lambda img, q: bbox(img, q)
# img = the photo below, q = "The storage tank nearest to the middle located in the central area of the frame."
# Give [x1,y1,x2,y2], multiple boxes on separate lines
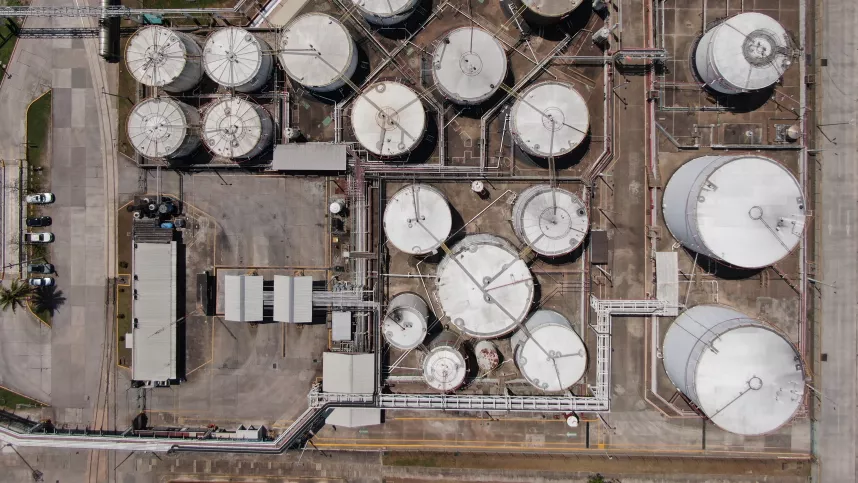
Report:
[383,180,457,254]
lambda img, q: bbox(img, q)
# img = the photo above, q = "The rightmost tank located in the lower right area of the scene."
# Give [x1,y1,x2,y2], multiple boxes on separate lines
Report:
[658,299,809,438]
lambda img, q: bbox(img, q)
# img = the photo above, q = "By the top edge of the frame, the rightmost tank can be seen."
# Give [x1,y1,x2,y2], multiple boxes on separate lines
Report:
[690,10,798,99]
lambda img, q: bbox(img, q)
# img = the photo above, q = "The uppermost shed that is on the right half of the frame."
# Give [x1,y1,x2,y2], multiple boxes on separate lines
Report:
[589,231,607,264]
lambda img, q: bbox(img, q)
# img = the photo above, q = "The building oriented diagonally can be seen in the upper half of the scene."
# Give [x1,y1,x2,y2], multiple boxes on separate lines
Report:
[268,0,320,31]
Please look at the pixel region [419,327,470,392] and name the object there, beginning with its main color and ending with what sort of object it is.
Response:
white storage tank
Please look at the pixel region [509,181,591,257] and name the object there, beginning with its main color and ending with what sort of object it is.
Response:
white storage tank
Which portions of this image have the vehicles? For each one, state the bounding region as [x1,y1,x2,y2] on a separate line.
[28,276,57,288]
[27,192,57,205]
[27,262,57,275]
[24,231,57,244]
[26,216,54,227]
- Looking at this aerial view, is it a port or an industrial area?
industrial area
